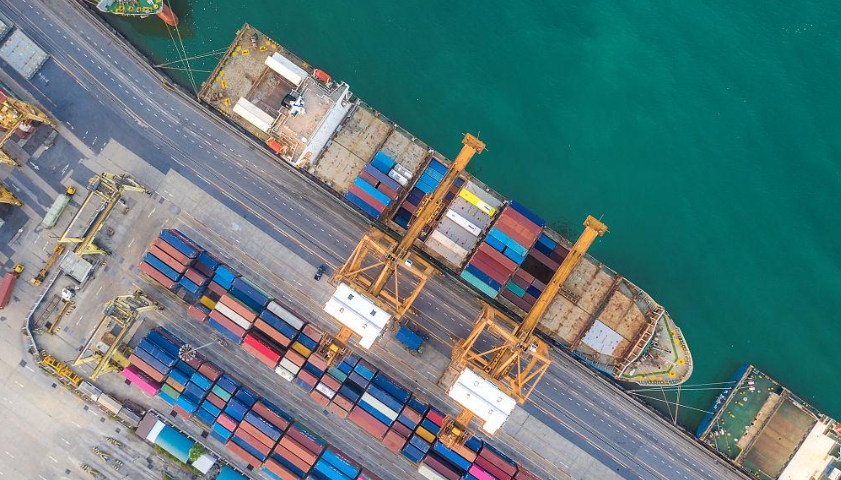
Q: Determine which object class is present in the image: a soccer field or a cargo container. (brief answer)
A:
cargo container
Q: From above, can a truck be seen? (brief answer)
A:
Yes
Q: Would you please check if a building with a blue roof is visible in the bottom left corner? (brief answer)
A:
Yes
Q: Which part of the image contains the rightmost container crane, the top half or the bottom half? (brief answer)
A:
bottom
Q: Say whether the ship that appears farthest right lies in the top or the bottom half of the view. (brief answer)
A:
bottom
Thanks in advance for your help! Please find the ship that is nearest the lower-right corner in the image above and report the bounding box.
[700,367,841,480]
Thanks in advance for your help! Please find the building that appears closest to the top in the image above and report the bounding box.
[59,252,99,283]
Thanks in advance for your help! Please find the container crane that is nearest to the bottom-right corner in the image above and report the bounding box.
[439,219,609,455]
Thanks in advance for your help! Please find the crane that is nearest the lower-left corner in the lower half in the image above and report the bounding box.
[69,291,168,385]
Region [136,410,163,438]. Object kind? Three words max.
building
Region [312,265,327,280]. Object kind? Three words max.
vehicle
